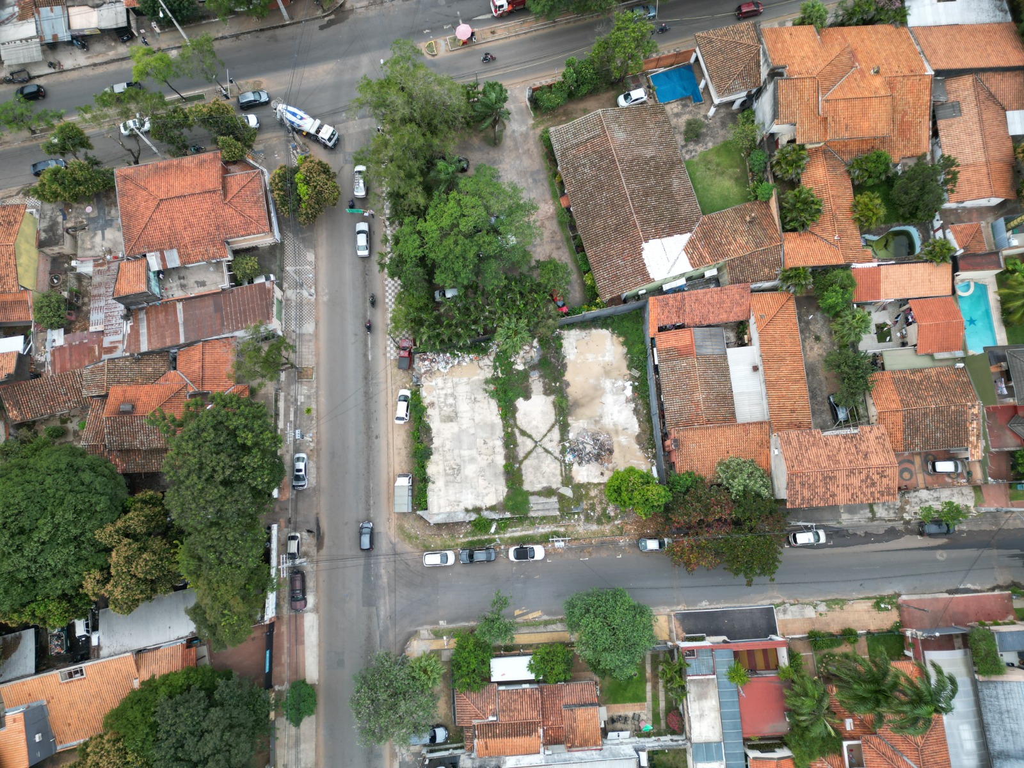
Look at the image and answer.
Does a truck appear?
Yes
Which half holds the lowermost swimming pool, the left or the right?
right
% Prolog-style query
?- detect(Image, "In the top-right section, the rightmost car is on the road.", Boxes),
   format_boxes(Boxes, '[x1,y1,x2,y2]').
[734,0,764,21]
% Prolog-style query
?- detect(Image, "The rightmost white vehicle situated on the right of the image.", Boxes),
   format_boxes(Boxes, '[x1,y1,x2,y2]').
[927,459,962,476]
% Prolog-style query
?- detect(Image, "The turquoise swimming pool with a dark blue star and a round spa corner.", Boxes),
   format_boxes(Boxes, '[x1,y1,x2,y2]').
[953,280,1001,355]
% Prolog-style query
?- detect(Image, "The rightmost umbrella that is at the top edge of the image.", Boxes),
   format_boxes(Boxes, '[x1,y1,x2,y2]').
[455,24,472,39]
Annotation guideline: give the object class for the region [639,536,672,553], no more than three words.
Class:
car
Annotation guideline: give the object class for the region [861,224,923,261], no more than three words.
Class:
swimming pool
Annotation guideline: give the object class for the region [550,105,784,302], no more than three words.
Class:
house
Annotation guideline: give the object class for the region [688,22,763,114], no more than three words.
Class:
building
